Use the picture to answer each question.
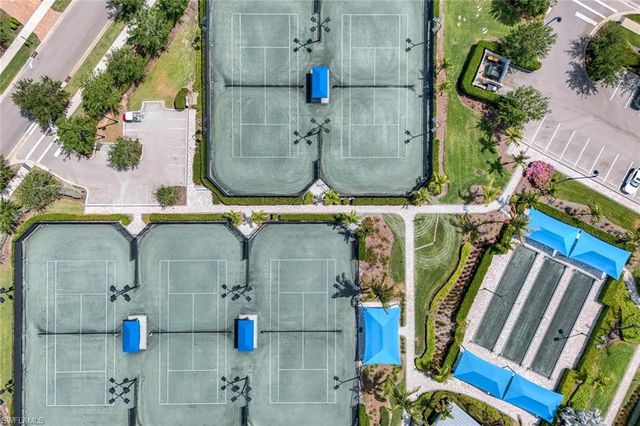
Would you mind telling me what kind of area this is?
sports ground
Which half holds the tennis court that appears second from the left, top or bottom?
bottom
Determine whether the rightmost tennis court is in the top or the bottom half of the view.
top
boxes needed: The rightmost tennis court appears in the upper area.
[319,0,429,195]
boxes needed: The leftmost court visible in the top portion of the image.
[210,0,319,194]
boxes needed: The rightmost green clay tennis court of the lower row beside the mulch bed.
[247,224,358,426]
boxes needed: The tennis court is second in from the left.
[135,224,247,426]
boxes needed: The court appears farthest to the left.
[23,224,135,426]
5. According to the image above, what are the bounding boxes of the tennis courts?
[23,224,135,426]
[319,0,429,195]
[247,224,358,426]
[210,0,319,194]
[135,224,247,426]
